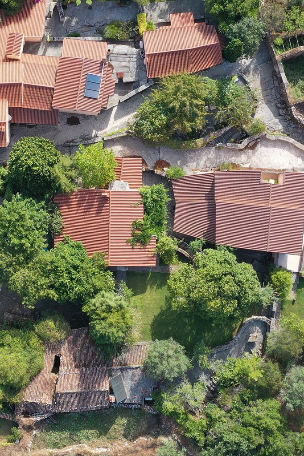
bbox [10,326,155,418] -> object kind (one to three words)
barn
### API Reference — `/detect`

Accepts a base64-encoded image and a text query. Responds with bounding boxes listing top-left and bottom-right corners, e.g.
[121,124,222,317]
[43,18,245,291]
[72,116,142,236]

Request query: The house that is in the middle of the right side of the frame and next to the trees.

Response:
[168,170,304,273]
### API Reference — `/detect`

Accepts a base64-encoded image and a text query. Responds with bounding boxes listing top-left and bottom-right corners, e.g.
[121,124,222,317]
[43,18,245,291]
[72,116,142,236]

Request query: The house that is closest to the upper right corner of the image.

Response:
[139,11,227,80]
